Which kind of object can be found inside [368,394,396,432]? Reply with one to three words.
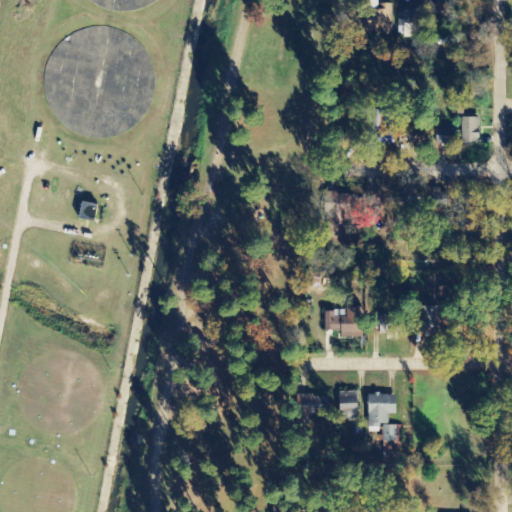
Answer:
house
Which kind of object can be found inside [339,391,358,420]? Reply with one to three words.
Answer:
house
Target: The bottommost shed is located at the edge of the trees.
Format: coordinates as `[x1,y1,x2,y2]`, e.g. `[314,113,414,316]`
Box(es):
[383,424,402,442]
